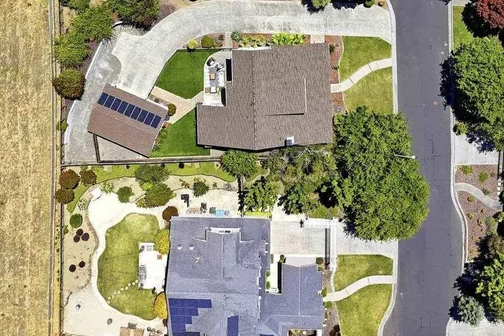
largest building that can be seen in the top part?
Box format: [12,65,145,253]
[196,47,332,151]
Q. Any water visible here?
No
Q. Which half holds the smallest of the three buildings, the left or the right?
left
